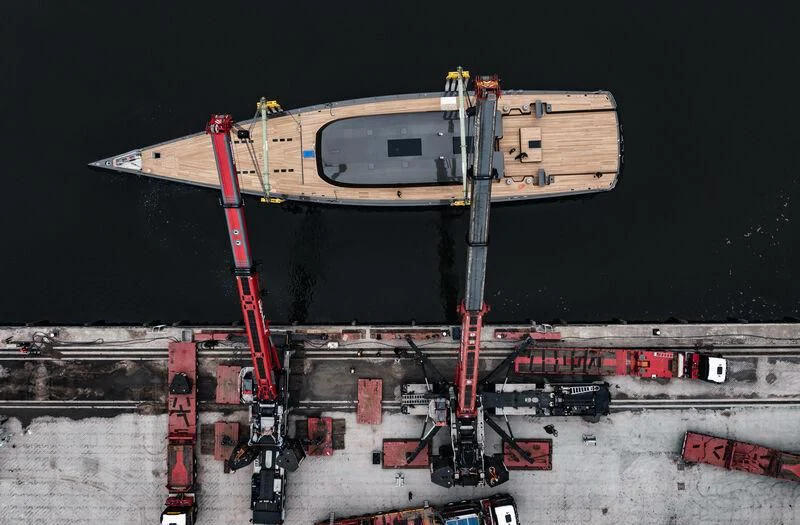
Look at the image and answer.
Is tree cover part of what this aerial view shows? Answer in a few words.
No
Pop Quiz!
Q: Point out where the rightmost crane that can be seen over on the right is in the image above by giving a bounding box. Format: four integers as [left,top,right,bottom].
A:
[401,77,609,488]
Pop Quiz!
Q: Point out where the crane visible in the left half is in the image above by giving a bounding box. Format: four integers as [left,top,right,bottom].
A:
[205,112,324,524]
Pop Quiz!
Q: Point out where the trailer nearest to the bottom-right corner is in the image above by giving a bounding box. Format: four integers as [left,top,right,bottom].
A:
[679,430,800,482]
